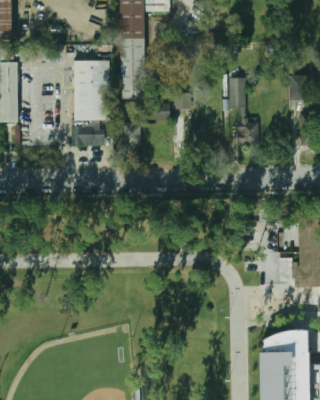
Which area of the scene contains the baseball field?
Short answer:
bottom left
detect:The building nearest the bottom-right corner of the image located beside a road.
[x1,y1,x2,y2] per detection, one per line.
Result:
[260,330,320,400]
